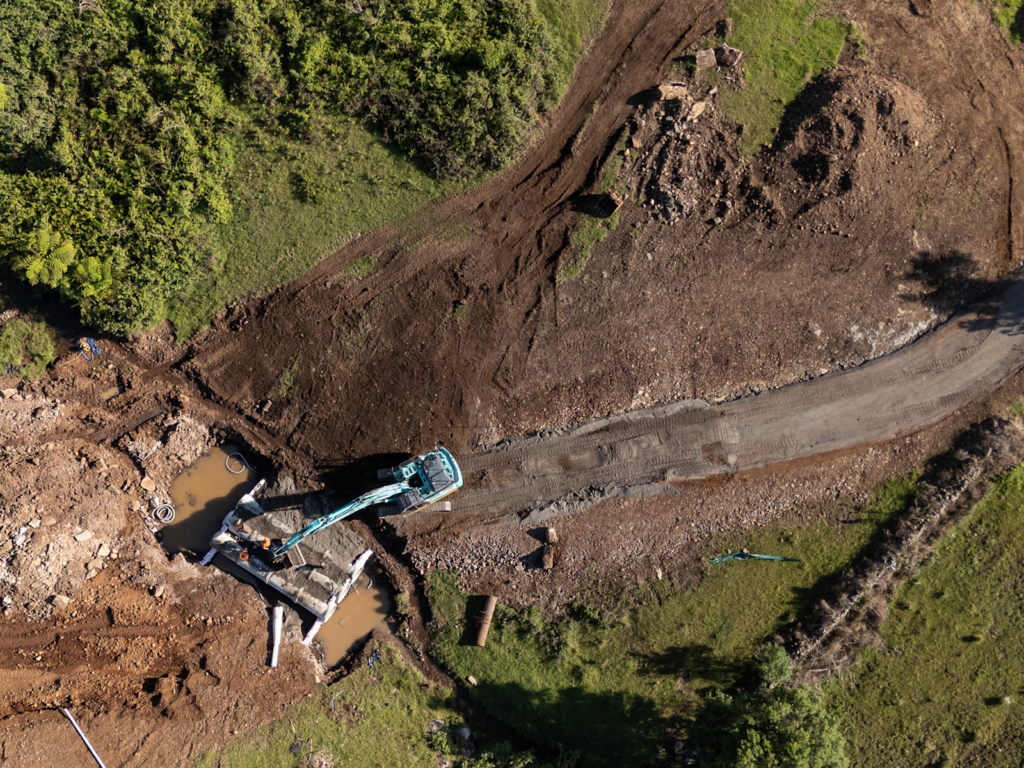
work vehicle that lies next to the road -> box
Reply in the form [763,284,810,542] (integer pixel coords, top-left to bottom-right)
[274,447,463,570]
